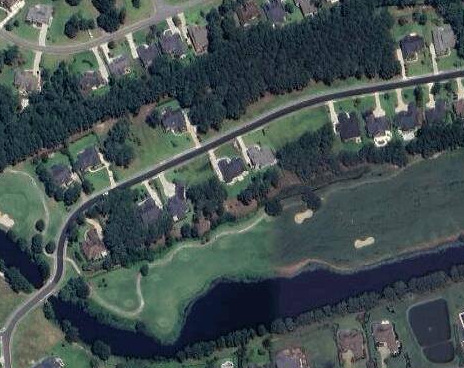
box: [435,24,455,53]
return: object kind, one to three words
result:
house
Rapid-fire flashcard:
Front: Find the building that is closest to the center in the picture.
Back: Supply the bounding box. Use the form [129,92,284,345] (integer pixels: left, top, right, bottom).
[217,155,245,183]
